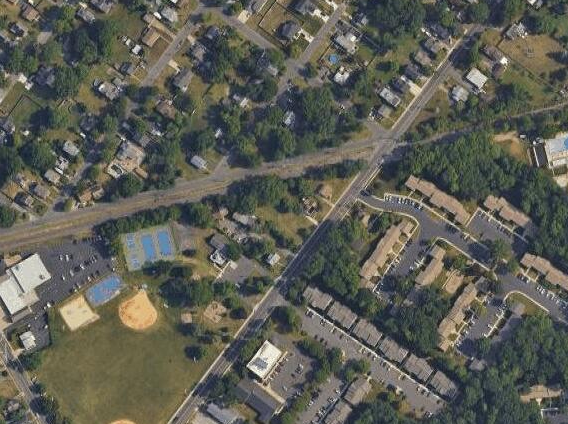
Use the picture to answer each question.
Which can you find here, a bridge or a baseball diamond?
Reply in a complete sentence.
There is a baseball diamond in the scene.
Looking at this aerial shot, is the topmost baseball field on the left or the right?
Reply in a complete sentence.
You can find the topmost baseball field on the left side of the picture.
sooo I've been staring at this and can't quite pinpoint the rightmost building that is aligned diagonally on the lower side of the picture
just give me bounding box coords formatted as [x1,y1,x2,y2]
[523,253,568,292]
